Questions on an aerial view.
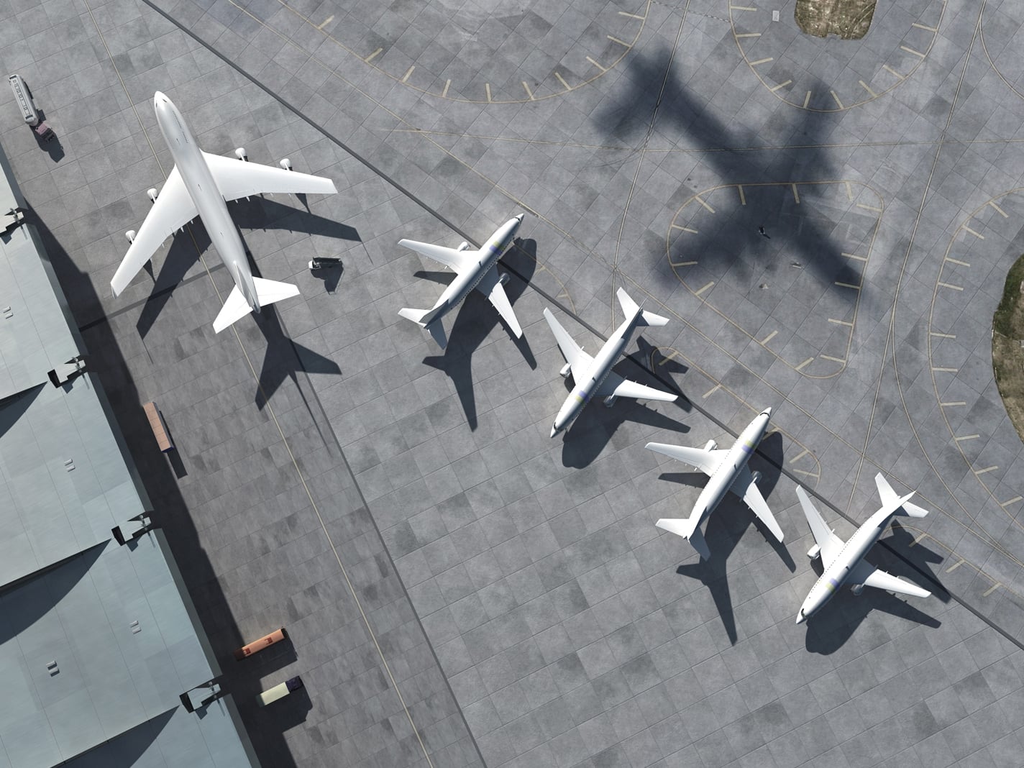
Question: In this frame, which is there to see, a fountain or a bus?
bus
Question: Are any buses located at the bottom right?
No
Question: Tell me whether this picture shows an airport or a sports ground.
airport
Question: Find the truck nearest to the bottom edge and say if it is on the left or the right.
left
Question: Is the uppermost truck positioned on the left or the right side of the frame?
left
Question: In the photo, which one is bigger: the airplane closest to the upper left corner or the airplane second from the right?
the airplane closest to the upper left corner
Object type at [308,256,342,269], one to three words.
vehicle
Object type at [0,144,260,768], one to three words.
hangar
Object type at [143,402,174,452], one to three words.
trailer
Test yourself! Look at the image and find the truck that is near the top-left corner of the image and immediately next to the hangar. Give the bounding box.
[11,77,57,144]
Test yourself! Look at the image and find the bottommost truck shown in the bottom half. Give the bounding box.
[255,674,306,706]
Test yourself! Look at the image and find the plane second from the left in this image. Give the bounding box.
[398,214,524,352]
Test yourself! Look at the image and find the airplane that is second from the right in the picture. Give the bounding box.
[646,407,788,562]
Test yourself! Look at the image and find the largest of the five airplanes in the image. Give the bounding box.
[114,92,340,336]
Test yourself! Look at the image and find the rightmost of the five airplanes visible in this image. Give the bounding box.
[797,477,933,623]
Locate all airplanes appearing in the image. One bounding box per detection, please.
[114,92,340,336]
[646,407,788,562]
[398,214,524,352]
[797,477,933,623]
[543,288,677,437]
